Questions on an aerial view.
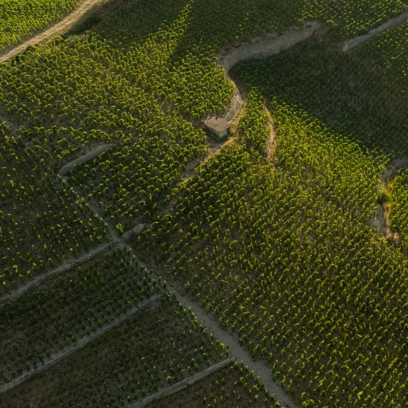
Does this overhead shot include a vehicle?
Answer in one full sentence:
No, I can't see a single vehicle in this photo.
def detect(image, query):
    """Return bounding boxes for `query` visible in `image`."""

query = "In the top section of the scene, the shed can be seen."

[199,117,234,144]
